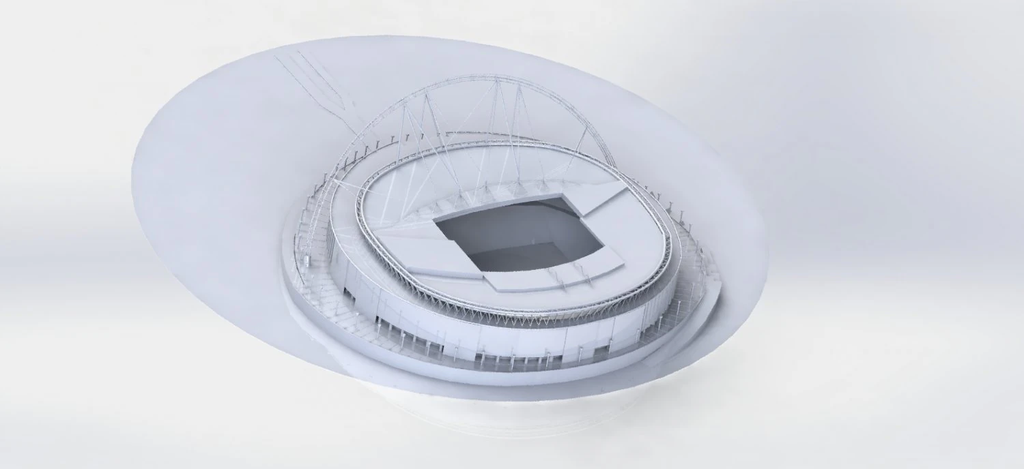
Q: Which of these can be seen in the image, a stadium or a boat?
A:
stadium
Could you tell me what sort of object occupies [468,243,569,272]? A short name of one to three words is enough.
sports field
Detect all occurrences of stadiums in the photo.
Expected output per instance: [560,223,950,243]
[323,131,683,364]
